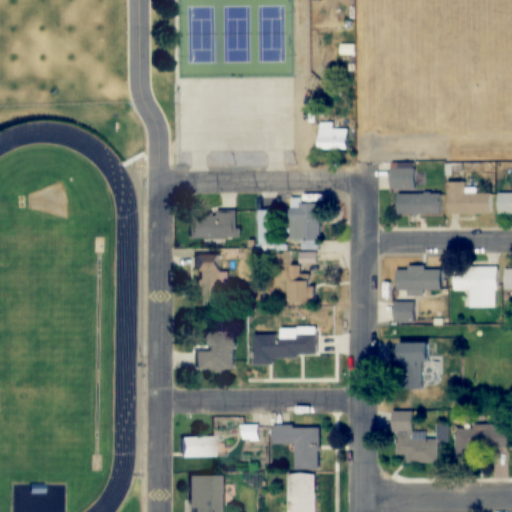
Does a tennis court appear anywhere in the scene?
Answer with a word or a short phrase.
Yes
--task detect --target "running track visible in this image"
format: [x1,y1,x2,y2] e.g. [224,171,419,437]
[0,120,139,512]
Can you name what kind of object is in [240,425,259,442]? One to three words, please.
shed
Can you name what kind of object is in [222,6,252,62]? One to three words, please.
tennis court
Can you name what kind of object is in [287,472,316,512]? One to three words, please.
house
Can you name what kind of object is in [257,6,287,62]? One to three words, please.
tennis court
